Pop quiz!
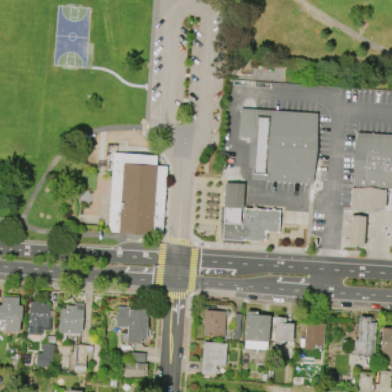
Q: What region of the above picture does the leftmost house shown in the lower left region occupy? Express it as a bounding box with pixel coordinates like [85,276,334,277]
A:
[0,294,24,334]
